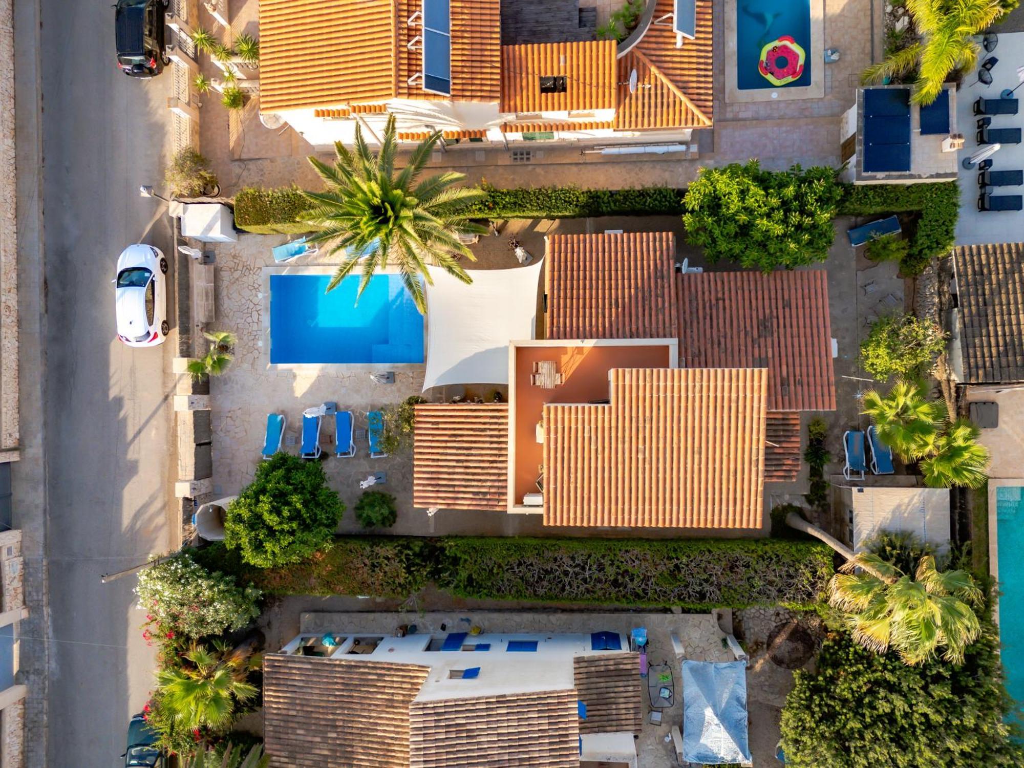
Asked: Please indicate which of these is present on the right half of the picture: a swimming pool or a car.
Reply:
swimming pool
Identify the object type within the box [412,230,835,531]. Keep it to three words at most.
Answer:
house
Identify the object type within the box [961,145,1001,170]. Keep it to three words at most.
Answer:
umbrella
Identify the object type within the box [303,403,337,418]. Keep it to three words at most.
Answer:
umbrella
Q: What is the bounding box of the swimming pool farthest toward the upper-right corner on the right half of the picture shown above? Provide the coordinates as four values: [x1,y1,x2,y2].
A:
[727,0,825,100]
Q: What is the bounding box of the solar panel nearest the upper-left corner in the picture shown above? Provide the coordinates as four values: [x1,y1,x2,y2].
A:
[407,0,451,98]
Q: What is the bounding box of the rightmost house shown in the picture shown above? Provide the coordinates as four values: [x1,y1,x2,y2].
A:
[925,244,1024,393]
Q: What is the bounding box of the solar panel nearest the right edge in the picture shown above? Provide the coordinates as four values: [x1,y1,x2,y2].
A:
[919,89,950,135]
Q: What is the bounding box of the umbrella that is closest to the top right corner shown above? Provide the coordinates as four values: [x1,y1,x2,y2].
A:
[999,68,1024,98]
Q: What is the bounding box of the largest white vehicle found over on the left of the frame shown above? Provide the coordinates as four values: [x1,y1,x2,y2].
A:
[109,244,171,347]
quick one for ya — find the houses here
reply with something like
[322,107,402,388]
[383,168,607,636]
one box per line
[412,230,835,531]
[261,630,644,768]
[925,244,1024,393]
[256,0,715,156]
